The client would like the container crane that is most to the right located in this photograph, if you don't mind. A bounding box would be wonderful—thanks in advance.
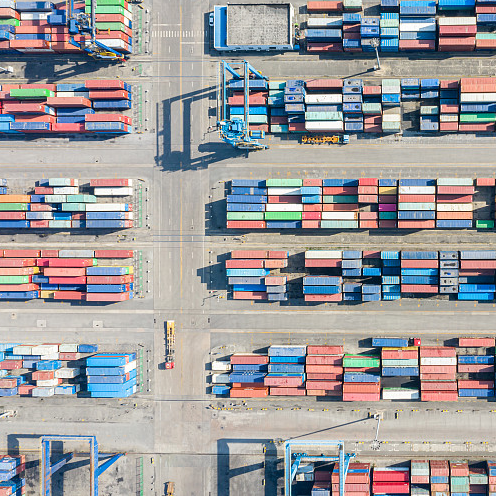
[284,438,356,496]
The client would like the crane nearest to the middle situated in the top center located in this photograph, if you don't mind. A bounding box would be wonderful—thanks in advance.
[219,59,271,154]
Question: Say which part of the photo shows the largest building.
top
